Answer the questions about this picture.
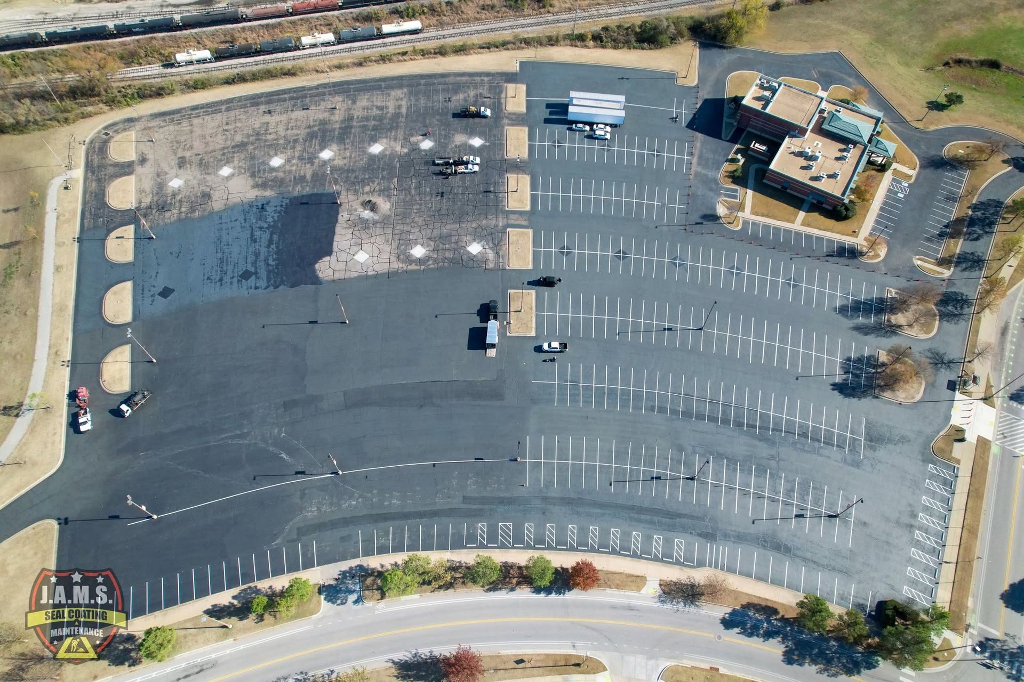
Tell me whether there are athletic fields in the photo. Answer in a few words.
No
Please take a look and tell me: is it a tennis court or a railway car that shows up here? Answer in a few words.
railway car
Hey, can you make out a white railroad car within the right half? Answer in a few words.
No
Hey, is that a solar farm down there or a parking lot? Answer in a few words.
parking lot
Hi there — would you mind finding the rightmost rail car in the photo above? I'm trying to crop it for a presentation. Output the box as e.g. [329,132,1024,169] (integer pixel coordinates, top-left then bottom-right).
[378,16,424,37]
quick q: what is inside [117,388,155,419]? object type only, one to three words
truck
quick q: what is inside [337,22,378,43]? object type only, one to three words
rail car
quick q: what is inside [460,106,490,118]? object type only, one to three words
vehicle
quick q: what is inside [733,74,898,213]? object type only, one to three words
building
